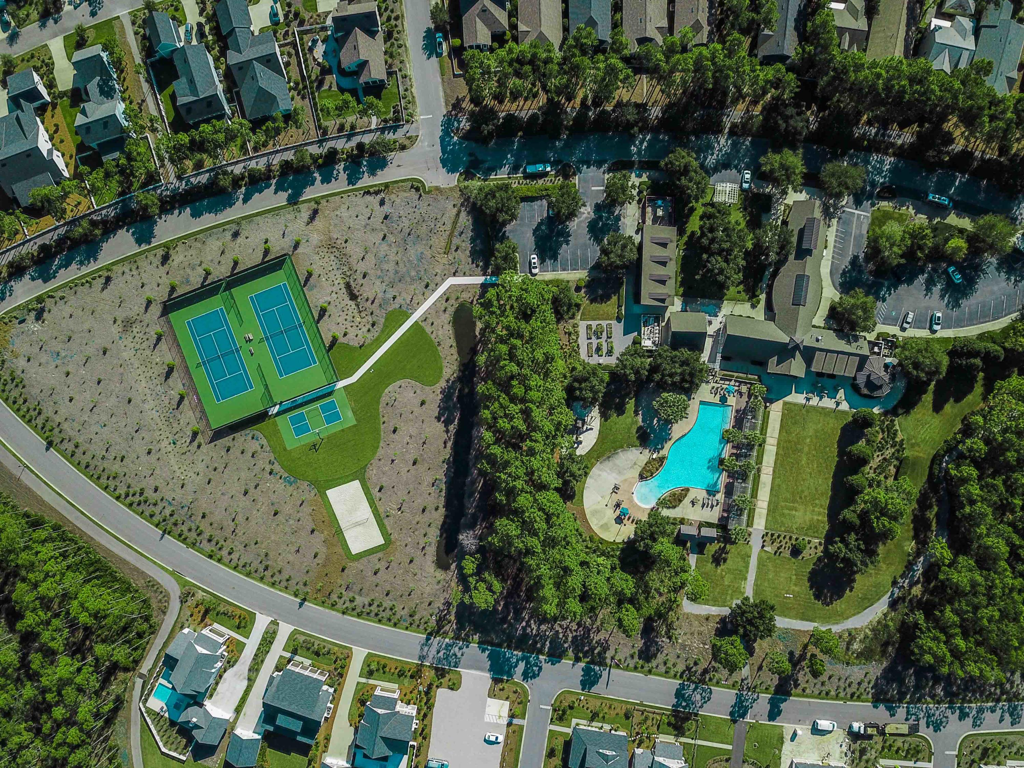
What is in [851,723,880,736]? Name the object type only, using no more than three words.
vehicle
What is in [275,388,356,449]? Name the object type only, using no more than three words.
sports court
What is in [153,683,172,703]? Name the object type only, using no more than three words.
swimming pool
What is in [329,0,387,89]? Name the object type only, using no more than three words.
house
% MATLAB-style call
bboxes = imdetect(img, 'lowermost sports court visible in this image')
[326,480,384,554]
